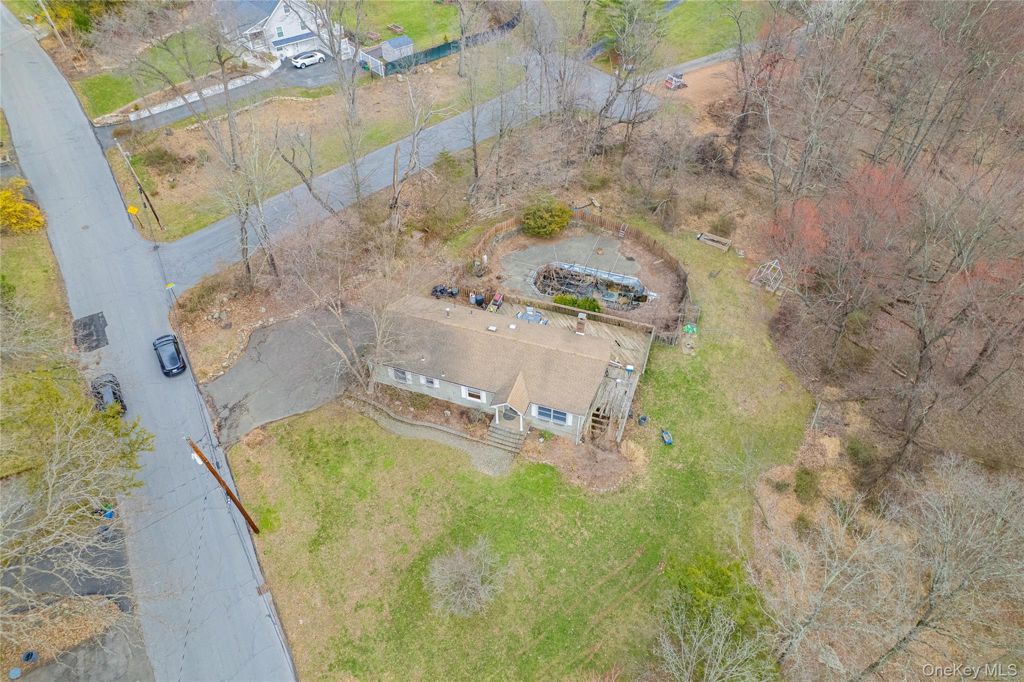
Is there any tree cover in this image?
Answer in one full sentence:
Yes, there is tree cover in the image.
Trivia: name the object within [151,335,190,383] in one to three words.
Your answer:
car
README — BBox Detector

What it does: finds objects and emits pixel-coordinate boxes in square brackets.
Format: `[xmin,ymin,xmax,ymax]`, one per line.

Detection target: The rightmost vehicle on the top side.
[667,69,691,90]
